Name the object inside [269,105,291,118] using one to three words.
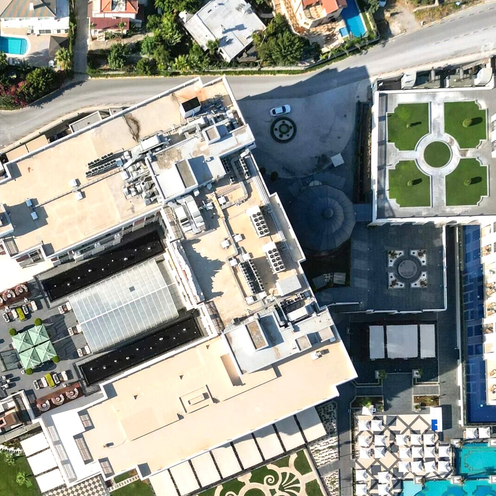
vehicle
